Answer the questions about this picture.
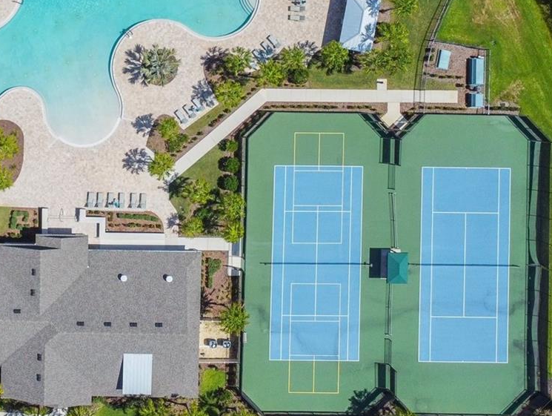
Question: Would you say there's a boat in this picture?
No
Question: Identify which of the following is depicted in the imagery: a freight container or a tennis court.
tennis court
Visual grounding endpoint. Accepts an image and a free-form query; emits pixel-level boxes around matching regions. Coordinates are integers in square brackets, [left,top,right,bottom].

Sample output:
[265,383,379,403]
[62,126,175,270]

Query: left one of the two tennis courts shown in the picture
[238,112,392,413]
